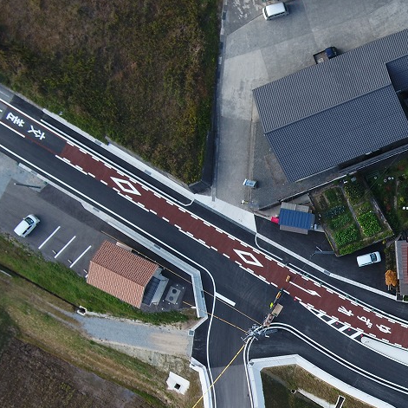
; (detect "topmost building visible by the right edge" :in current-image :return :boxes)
[253,29,408,182]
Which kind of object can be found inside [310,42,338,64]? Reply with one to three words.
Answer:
truck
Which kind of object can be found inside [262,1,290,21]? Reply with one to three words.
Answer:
car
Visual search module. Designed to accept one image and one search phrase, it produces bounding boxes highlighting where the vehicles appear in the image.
[310,42,338,64]
[14,212,42,239]
[356,251,383,266]
[262,1,290,21]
